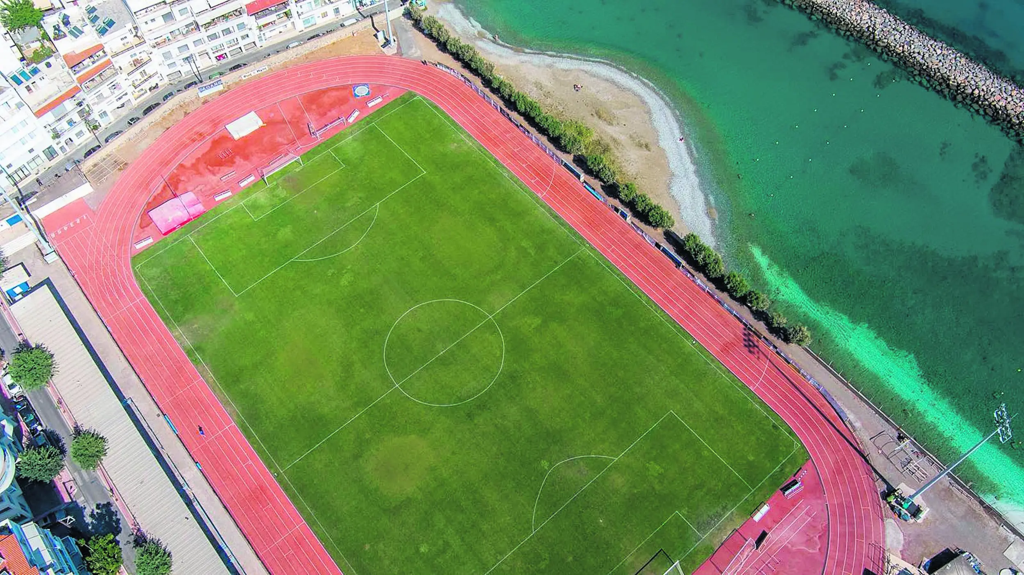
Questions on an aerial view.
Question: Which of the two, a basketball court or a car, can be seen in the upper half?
car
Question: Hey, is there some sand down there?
Yes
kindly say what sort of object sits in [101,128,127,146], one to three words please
car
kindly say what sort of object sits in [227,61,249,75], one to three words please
car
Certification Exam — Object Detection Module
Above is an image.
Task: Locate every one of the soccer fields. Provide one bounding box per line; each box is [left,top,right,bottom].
[130,89,812,575]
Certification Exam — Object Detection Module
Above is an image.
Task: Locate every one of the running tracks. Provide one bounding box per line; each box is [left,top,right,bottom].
[38,54,884,575]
